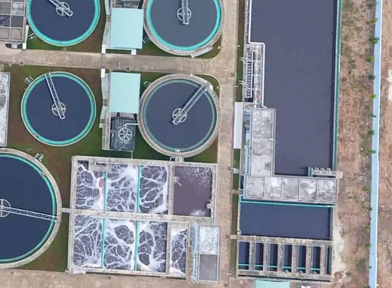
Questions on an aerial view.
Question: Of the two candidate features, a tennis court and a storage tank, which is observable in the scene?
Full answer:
Looking from above, you can make out a storage tank.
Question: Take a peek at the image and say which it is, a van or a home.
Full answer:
The one in the frame is a home.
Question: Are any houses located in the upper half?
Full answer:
Yes, a house appears in the upper half.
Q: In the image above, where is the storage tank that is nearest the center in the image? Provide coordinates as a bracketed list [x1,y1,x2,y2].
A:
[137,75,221,162]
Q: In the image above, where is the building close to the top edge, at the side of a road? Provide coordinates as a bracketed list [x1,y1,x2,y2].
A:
[99,0,144,49]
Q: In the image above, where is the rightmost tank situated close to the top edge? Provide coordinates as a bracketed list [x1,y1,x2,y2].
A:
[140,0,225,59]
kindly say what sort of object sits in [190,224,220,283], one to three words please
building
